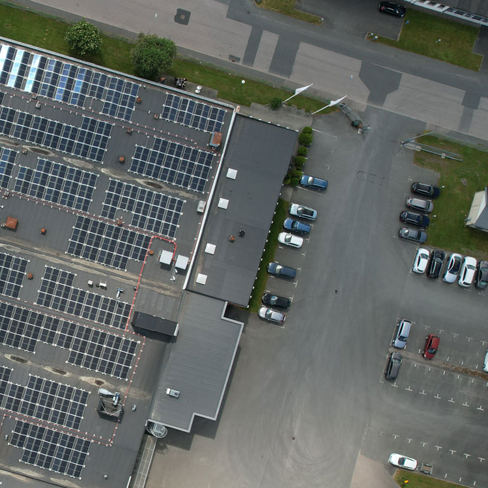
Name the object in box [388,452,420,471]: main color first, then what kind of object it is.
white car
